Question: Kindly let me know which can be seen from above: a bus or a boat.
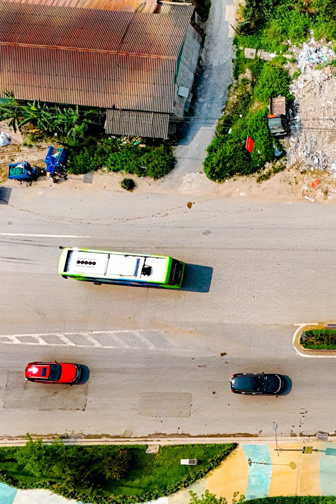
bus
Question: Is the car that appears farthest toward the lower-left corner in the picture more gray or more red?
red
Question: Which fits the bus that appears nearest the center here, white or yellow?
white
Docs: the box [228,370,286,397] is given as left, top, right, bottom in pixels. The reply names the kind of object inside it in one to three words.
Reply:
car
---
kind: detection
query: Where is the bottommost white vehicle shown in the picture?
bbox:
[55,247,189,293]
